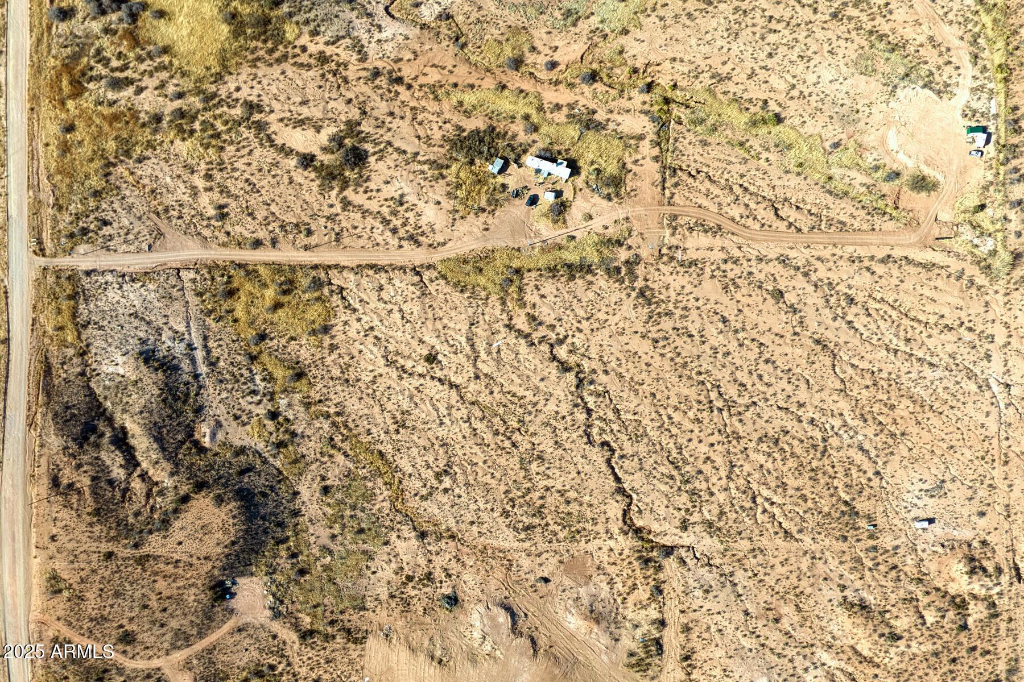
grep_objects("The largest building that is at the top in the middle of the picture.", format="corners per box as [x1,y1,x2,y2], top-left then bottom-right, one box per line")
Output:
[526,158,572,183]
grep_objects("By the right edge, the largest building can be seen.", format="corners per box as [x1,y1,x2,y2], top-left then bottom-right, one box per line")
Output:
[963,126,986,150]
